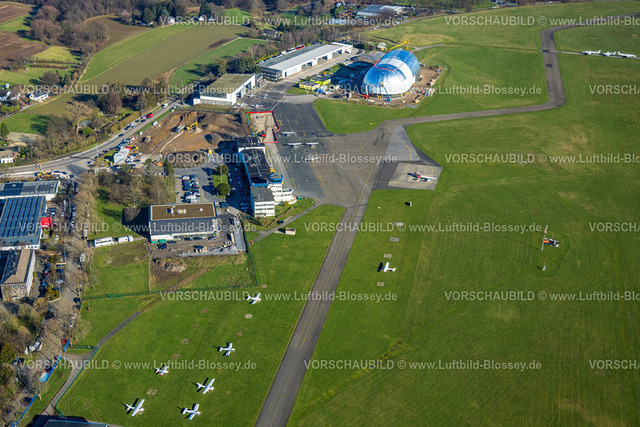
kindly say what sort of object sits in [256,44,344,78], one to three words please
hangar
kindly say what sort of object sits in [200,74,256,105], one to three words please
hangar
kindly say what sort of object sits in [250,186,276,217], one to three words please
building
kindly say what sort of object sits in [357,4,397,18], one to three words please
building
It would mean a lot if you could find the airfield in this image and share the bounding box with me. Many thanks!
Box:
[246,12,640,427]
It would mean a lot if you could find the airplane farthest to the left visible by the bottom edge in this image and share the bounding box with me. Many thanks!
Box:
[125,398,144,415]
